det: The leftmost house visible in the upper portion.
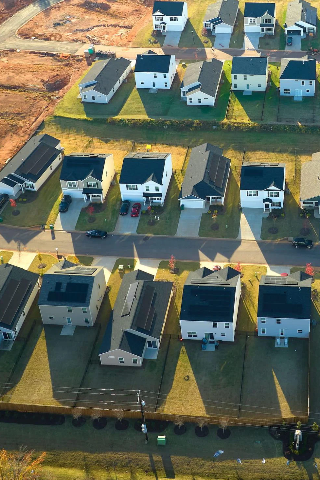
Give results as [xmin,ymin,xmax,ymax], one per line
[0,131,74,195]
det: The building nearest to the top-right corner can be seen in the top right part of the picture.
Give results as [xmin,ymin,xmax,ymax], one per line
[285,0,318,35]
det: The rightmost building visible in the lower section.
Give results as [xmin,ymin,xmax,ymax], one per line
[256,271,313,340]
